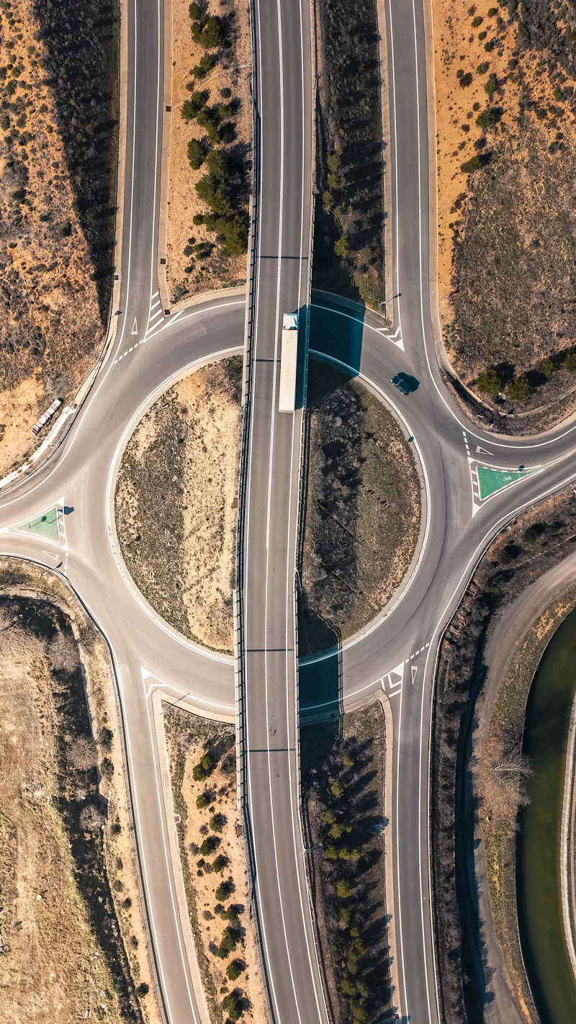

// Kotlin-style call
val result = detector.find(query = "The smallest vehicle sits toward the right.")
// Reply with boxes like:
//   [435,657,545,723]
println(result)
[390,376,412,398]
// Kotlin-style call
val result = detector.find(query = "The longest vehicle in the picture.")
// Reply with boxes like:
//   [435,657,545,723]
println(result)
[278,314,300,415]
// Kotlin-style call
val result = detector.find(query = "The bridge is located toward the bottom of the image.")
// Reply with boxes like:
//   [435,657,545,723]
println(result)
[231,569,305,850]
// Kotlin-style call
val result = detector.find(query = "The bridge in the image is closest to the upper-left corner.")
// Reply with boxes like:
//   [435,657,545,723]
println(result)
[239,194,314,407]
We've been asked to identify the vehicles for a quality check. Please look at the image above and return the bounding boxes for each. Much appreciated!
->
[278,314,300,415]
[390,376,412,398]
